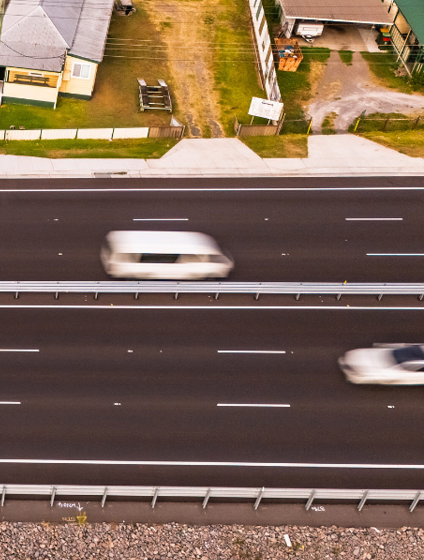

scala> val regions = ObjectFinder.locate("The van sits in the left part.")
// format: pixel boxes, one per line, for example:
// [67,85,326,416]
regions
[103,227,231,278]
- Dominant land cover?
paved ground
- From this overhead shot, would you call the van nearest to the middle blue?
No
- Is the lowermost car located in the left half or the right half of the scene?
right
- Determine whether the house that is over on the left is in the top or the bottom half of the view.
top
